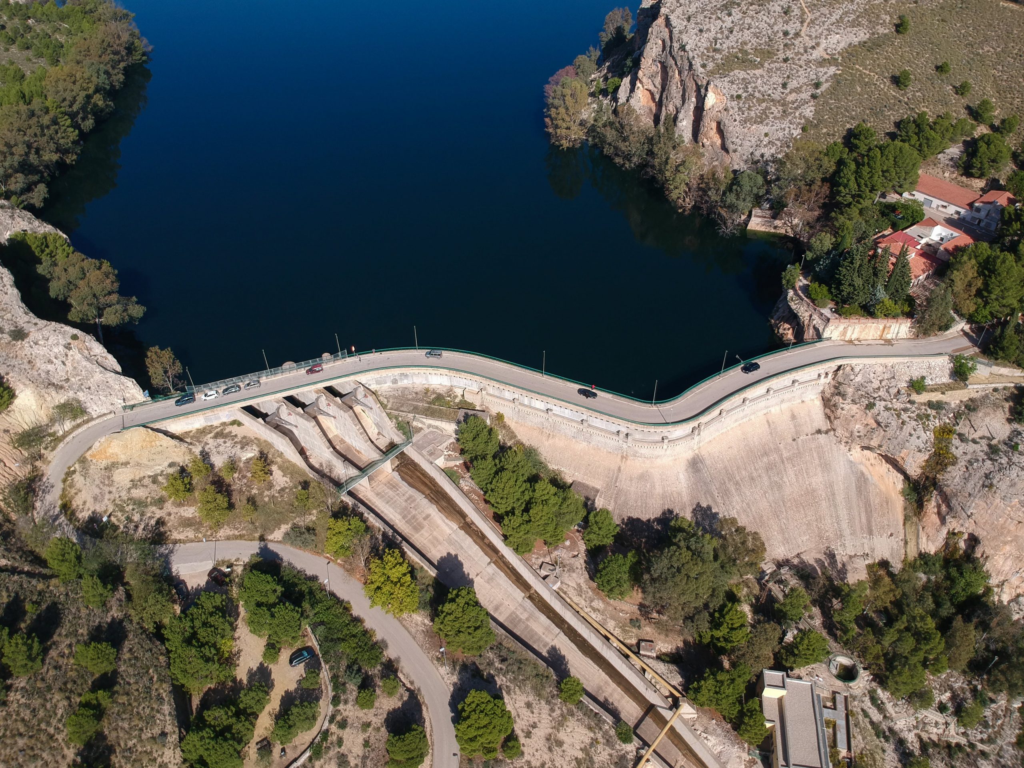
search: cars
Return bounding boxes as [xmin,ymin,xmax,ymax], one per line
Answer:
[175,392,195,405]
[578,386,597,399]
[208,567,228,584]
[201,388,219,400]
[743,360,759,372]
[175,579,189,599]
[222,382,242,395]
[244,378,262,389]
[426,348,443,358]
[288,645,315,665]
[307,362,324,374]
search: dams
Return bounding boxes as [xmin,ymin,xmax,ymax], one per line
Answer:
[125,357,937,588]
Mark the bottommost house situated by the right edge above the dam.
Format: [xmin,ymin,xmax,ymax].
[873,216,974,290]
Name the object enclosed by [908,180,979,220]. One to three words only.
house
